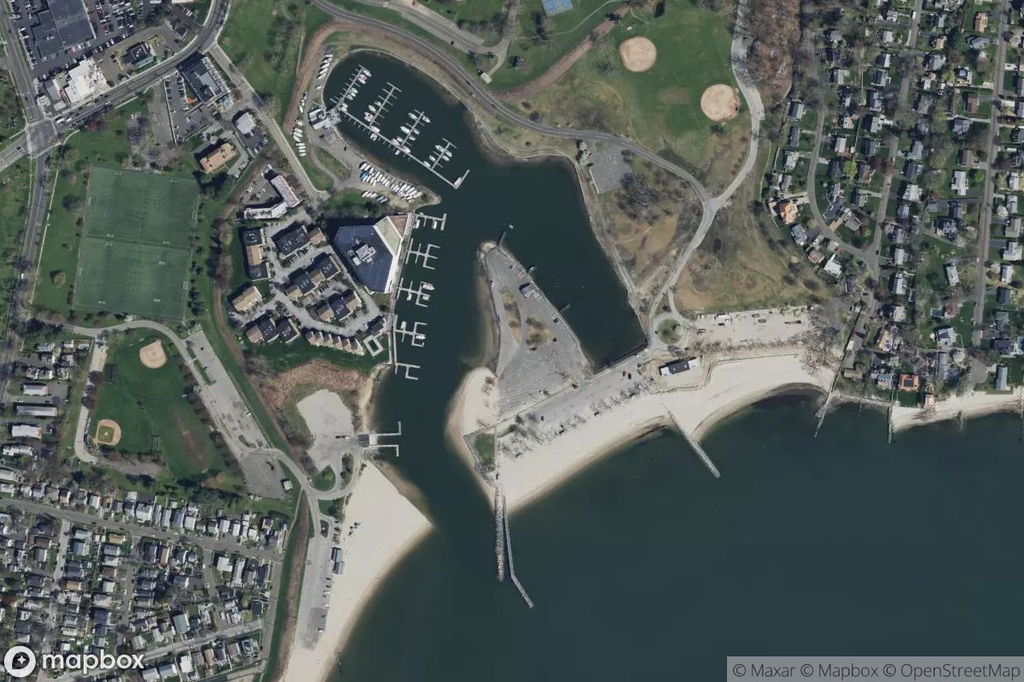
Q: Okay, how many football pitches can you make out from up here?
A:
2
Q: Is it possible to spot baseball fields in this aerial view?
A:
Yes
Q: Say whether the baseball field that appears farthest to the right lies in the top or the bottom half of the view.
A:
top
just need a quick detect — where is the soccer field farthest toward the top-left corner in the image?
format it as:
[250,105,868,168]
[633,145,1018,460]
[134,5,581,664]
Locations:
[85,167,199,248]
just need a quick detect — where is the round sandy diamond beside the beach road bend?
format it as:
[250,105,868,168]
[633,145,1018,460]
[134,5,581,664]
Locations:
[701,83,740,121]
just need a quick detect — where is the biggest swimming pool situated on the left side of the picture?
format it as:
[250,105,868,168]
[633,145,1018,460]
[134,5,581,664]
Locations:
[363,335,384,356]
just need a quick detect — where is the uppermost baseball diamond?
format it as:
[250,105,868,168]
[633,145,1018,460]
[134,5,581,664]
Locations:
[619,36,656,72]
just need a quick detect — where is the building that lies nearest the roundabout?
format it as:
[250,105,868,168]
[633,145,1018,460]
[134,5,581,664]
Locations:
[660,358,701,375]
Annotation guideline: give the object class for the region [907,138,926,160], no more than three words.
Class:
house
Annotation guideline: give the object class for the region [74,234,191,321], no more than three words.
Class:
soccer field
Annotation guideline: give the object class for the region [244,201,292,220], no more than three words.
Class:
building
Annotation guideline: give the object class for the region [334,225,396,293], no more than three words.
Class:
building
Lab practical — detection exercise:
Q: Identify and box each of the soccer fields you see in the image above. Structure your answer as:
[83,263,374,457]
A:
[85,167,199,248]
[74,234,191,321]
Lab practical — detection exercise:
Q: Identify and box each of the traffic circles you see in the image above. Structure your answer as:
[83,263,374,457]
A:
[653,315,685,347]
